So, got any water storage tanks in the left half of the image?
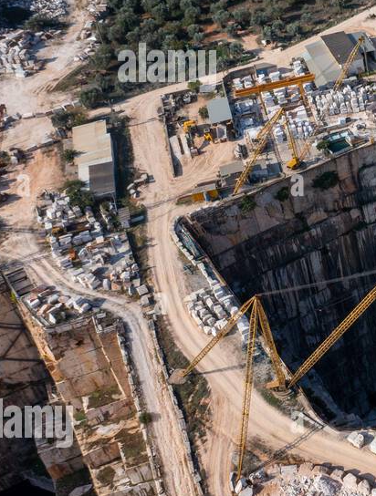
No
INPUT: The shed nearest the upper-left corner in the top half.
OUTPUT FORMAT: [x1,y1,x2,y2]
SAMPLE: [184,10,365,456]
[73,118,115,178]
